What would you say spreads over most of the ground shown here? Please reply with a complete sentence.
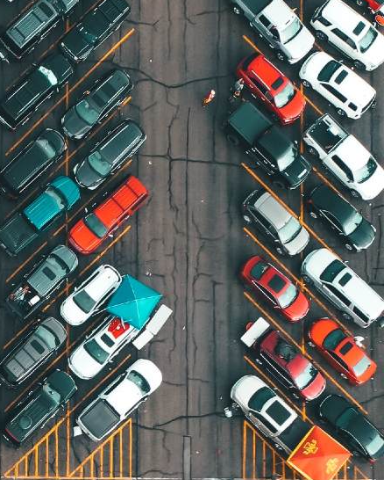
For the most part, this view shows paved ground.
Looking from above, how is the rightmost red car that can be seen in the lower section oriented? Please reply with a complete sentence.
The rightmost red car that can be seen in the lower section is laid out on a diagonal.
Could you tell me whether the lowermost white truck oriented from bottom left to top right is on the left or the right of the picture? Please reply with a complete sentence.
The lowermost white truck oriented from bottom left to top right appears in the left half of the scene.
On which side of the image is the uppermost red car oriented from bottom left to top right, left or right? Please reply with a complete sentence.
The uppermost red car oriented from bottom left to top right appears in the left half of the scene.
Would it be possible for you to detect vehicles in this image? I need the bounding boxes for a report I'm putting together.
[316,394,384,462]
[1,243,80,324]
[304,183,375,254]
[301,52,377,121]
[0,176,79,260]
[0,54,72,132]
[74,360,160,444]
[248,323,328,404]
[58,263,123,328]
[227,0,313,63]
[223,98,309,187]
[0,0,76,63]
[304,253,384,325]
[56,0,137,68]
[301,113,384,203]
[0,130,65,200]
[68,315,139,379]
[0,320,65,390]
[237,255,308,324]
[305,317,377,387]
[234,52,305,125]
[309,0,381,72]
[229,377,310,457]
[70,115,147,191]
[3,373,72,443]
[68,174,148,254]
[240,190,306,256]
